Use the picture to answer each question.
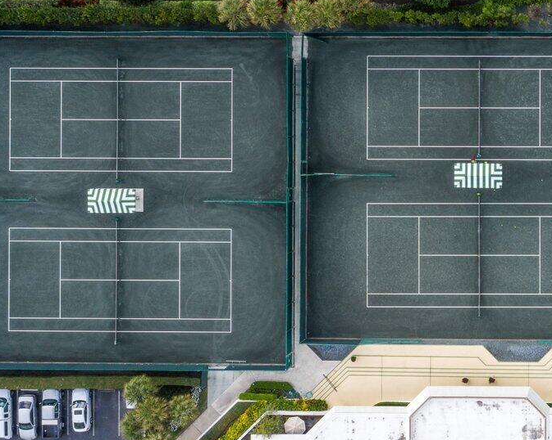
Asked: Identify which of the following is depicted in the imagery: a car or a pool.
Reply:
car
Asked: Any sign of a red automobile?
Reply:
No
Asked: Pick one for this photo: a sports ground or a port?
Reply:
sports ground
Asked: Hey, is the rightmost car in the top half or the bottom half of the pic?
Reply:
bottom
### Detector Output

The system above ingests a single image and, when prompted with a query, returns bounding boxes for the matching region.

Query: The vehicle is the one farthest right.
[70,388,94,433]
